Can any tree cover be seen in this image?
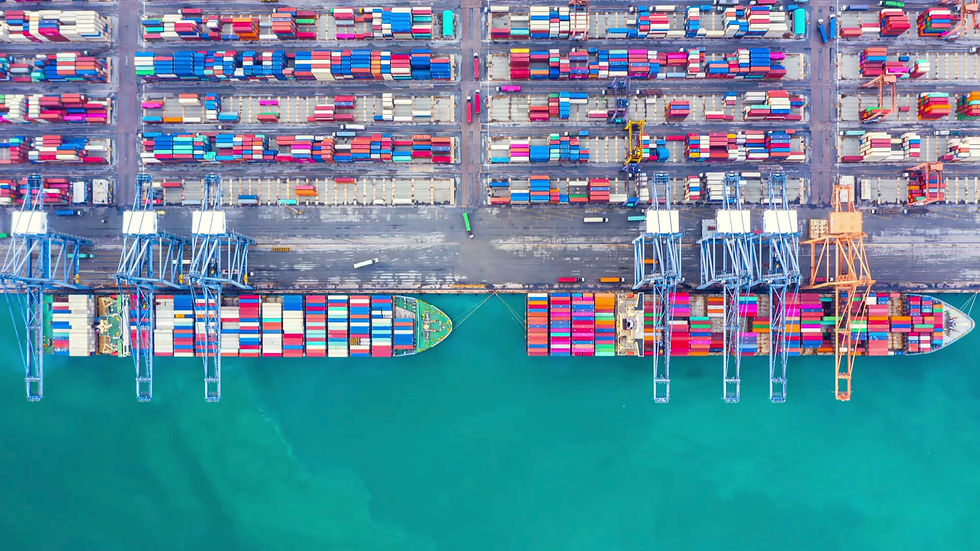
No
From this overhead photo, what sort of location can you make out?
port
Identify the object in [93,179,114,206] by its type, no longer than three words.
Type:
shed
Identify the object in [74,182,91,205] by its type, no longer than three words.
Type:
shed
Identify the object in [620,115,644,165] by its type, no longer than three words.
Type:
container crane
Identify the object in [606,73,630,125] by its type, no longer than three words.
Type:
container crane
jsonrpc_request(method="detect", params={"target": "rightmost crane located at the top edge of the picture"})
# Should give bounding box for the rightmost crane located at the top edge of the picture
[941,0,977,43]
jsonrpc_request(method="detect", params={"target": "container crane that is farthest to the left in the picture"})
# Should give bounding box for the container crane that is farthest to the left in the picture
[0,173,99,401]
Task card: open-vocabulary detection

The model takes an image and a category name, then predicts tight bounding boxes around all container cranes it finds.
[606,73,630,125]
[908,158,944,209]
[941,0,977,43]
[793,184,876,400]
[730,173,805,401]
[626,173,682,401]
[568,0,590,43]
[689,173,756,401]
[620,115,644,165]
[114,173,197,401]
[0,173,99,401]
[187,173,259,401]
[861,72,895,125]
[618,159,643,209]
